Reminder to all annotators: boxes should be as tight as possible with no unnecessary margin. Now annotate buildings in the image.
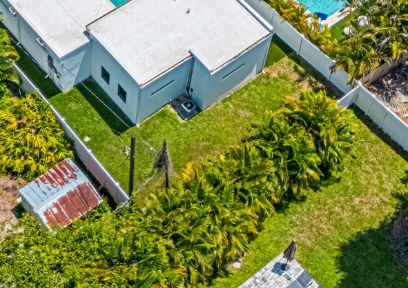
[0,0,273,128]
[19,158,104,240]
